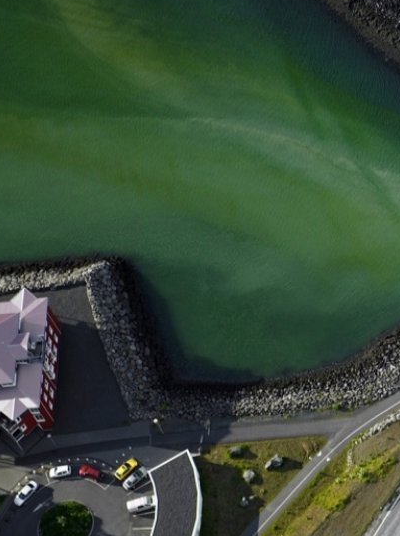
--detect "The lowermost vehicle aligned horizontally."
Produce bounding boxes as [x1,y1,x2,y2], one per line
[126,496,155,514]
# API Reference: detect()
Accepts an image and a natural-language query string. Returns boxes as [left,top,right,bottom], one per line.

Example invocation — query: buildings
[0,291,54,464]
[147,449,202,536]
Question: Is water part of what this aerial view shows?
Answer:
Yes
